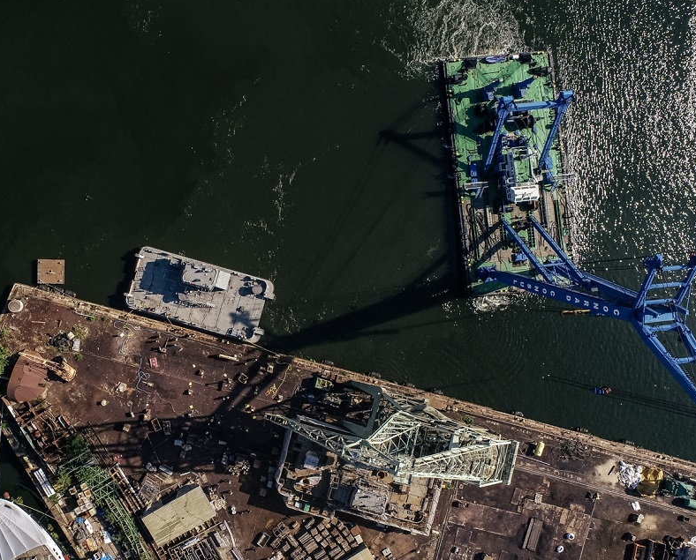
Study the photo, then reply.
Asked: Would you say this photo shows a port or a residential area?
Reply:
port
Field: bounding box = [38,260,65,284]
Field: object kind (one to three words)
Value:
pier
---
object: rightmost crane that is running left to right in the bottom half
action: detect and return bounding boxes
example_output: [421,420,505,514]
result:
[259,378,522,497]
